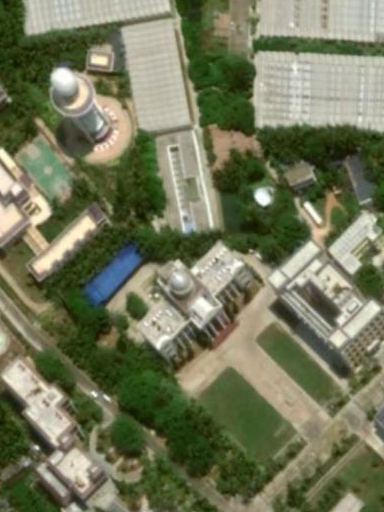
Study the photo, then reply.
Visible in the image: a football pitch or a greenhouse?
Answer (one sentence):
Of the two, only a greenhouse appears.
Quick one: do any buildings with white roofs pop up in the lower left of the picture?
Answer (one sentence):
Yes, a building with a white roof appears in the lower left of the picture.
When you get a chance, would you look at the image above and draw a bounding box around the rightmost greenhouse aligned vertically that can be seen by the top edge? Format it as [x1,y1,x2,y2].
[121,17,194,133]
